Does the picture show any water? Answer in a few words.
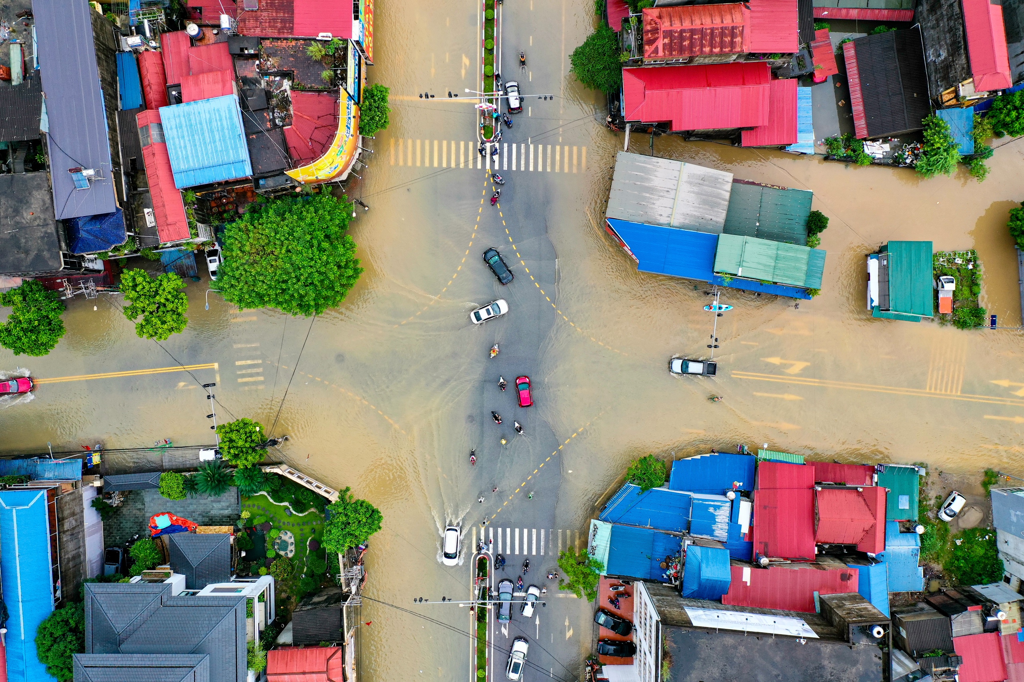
Yes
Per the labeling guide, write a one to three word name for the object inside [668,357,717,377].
vehicle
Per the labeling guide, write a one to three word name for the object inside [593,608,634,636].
car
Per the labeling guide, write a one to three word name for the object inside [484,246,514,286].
car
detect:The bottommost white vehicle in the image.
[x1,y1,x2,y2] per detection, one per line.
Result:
[506,636,530,682]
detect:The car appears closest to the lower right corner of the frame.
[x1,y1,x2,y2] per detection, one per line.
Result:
[937,490,967,522]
